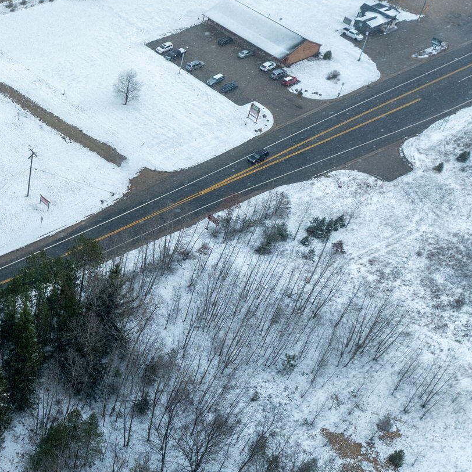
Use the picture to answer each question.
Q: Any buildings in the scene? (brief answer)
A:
Yes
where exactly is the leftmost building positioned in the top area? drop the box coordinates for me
[203,0,324,66]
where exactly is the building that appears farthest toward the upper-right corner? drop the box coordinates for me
[353,0,408,38]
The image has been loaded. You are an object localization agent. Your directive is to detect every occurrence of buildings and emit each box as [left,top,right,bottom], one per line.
[353,0,408,38]
[203,0,324,66]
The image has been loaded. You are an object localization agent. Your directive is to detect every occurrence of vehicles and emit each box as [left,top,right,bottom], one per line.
[238,50,255,59]
[271,69,288,79]
[222,83,239,93]
[156,41,173,52]
[208,73,226,84]
[250,149,270,163]
[166,49,186,60]
[343,28,364,40]
[217,35,235,47]
[281,76,299,85]
[260,62,277,70]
